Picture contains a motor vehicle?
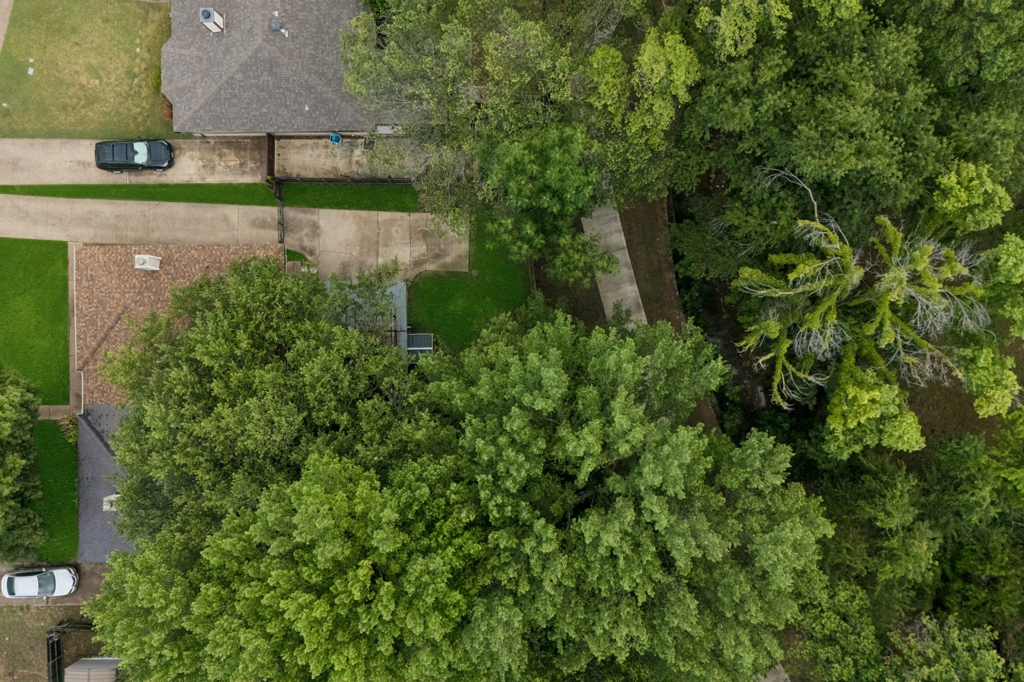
Yes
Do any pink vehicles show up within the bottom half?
No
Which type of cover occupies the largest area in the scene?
trees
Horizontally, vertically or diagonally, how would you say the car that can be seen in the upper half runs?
horizontally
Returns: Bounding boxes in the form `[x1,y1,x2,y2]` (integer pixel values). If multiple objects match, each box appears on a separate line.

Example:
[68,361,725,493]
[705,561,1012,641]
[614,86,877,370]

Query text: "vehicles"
[0,565,80,603]
[90,134,175,172]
